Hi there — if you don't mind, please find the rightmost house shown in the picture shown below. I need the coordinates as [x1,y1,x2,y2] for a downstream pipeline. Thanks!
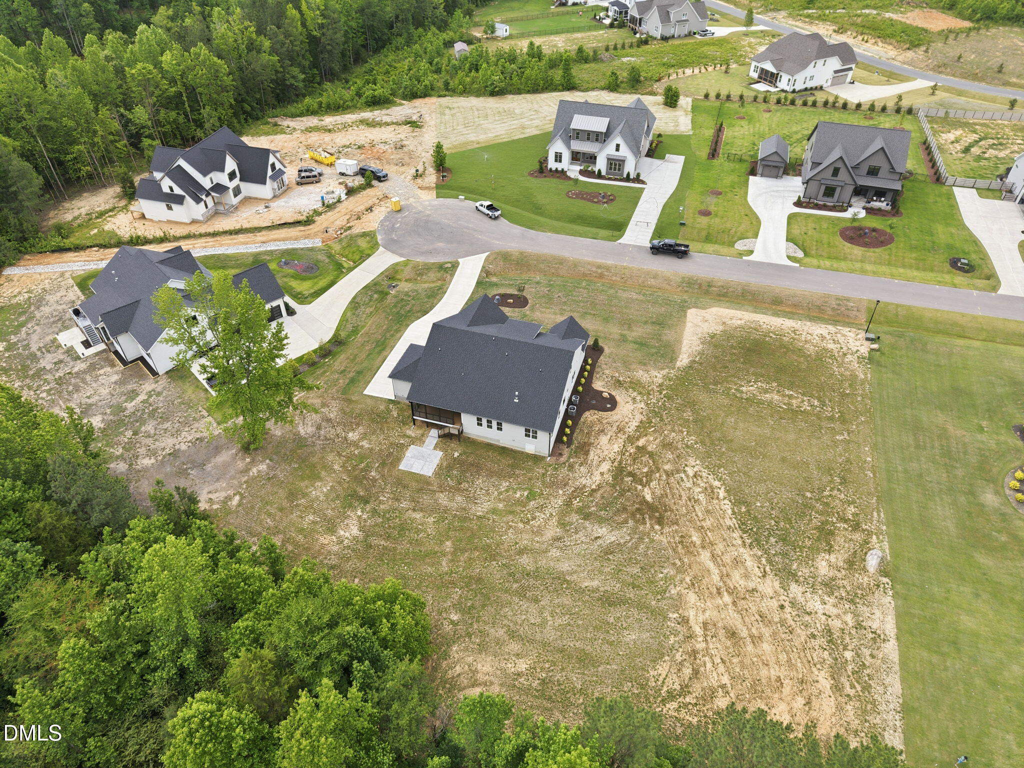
[987,141,1024,202]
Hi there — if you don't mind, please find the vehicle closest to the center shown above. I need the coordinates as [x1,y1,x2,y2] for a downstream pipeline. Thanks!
[471,201,504,219]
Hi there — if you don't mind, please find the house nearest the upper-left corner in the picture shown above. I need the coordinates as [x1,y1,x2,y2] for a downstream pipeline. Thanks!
[128,126,292,223]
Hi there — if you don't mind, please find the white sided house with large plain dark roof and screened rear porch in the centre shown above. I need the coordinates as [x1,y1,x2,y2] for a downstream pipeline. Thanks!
[388,292,590,457]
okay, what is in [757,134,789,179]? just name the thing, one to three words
building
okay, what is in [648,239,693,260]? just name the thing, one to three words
truck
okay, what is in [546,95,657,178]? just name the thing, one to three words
house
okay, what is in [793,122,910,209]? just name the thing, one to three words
house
